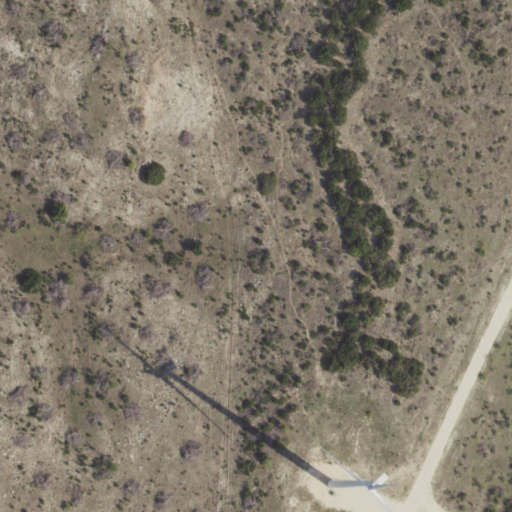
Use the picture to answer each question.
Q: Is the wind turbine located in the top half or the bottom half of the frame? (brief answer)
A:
bottom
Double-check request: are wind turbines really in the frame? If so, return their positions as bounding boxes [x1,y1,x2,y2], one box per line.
[308,438,404,512]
